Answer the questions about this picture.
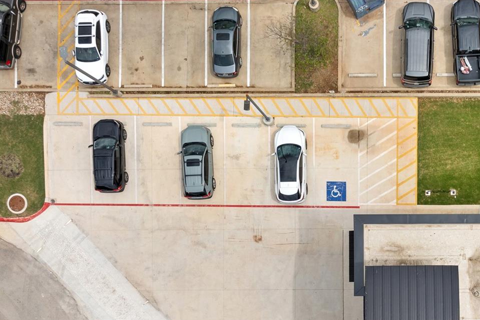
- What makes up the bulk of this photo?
paved ground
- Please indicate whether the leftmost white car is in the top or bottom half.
top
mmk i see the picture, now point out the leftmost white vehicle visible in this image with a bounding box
[70,9,113,87]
